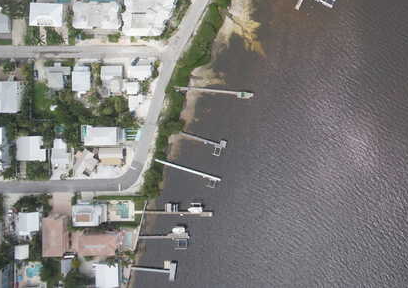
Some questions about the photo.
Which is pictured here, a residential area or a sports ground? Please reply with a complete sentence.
This image shows a residential area.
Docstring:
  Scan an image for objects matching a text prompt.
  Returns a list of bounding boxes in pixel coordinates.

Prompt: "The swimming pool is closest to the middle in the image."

[124,127,141,142]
